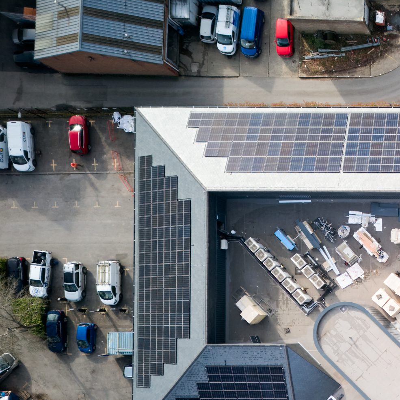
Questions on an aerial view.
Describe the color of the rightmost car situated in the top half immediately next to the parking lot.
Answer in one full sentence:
From above, the rightmost car situated in the top half immediately next to the parking lot appears red.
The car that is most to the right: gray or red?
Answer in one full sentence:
The car that is most to the right looks red in the image.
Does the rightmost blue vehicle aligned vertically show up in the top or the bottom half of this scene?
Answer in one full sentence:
It is in the top half that the rightmost blue vehicle aligned vertically appears.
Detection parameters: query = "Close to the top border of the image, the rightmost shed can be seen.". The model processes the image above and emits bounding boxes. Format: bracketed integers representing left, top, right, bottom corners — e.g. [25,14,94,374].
[288,0,372,35]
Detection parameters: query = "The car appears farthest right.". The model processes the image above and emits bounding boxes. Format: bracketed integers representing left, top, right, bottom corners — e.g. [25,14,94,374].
[274,18,295,58]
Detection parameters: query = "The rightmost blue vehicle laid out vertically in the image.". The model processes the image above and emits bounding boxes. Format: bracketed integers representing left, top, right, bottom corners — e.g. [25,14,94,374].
[241,4,265,59]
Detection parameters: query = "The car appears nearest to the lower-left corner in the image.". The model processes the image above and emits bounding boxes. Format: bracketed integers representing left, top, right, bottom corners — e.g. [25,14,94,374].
[0,346,26,389]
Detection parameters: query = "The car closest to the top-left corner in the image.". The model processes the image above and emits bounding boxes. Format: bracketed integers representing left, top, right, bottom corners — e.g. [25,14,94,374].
[10,24,35,48]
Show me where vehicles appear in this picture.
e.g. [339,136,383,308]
[28,250,56,298]
[0,123,15,173]
[6,120,38,172]
[10,24,35,48]
[241,4,265,59]
[0,346,26,389]
[46,310,71,354]
[7,255,32,296]
[274,18,295,58]
[215,2,242,57]
[198,7,218,46]
[10,48,51,70]
[62,262,88,304]
[93,260,123,306]
[66,115,92,156]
